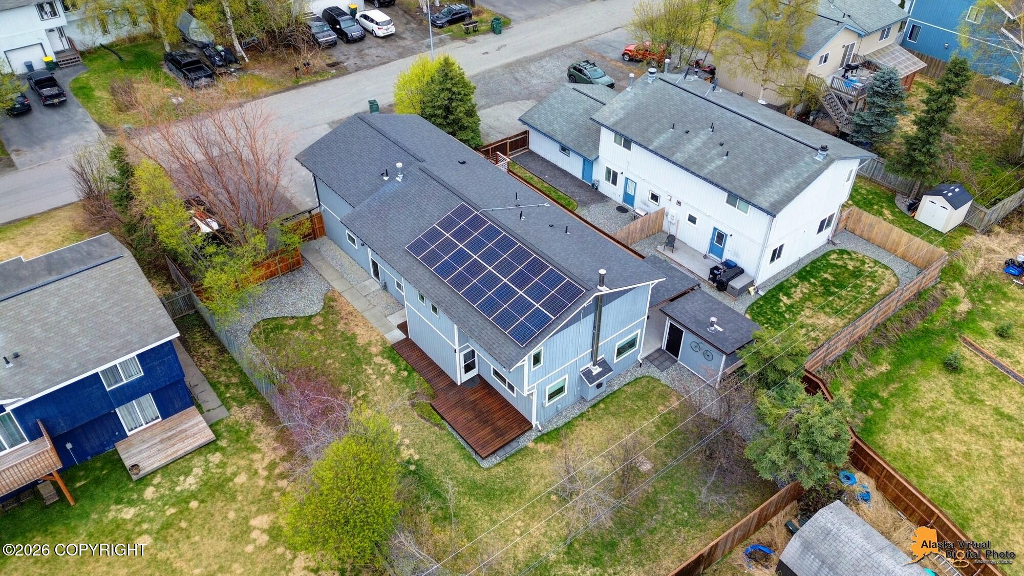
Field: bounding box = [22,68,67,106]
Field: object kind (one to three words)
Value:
truck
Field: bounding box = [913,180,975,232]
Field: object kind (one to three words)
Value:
shed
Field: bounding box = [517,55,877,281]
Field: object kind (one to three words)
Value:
house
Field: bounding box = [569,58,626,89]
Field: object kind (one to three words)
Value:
car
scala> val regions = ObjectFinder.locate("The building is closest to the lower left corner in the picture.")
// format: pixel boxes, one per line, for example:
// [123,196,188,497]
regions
[0,232,196,508]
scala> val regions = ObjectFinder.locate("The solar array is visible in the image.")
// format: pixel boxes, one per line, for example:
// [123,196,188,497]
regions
[405,201,585,345]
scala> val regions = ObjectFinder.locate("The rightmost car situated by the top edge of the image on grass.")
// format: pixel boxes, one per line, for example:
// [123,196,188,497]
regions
[430,2,476,29]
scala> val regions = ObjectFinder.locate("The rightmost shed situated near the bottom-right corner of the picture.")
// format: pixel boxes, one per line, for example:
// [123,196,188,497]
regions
[774,495,959,576]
